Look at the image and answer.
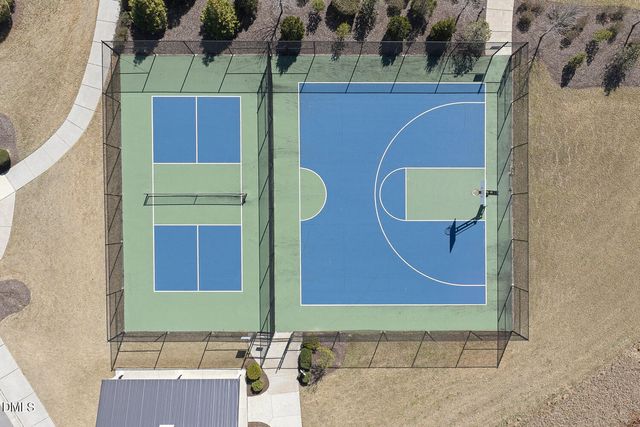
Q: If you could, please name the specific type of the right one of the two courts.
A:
basketball court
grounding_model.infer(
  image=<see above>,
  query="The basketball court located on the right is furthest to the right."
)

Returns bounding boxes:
[272,54,513,332]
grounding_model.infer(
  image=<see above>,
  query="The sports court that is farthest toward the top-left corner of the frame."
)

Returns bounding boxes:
[120,54,275,332]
